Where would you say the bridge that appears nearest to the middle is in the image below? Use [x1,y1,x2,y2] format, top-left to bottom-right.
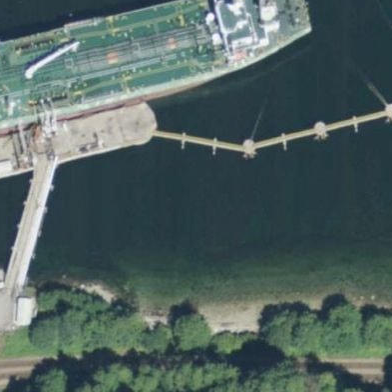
[156,129,244,154]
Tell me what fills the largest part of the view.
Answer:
water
